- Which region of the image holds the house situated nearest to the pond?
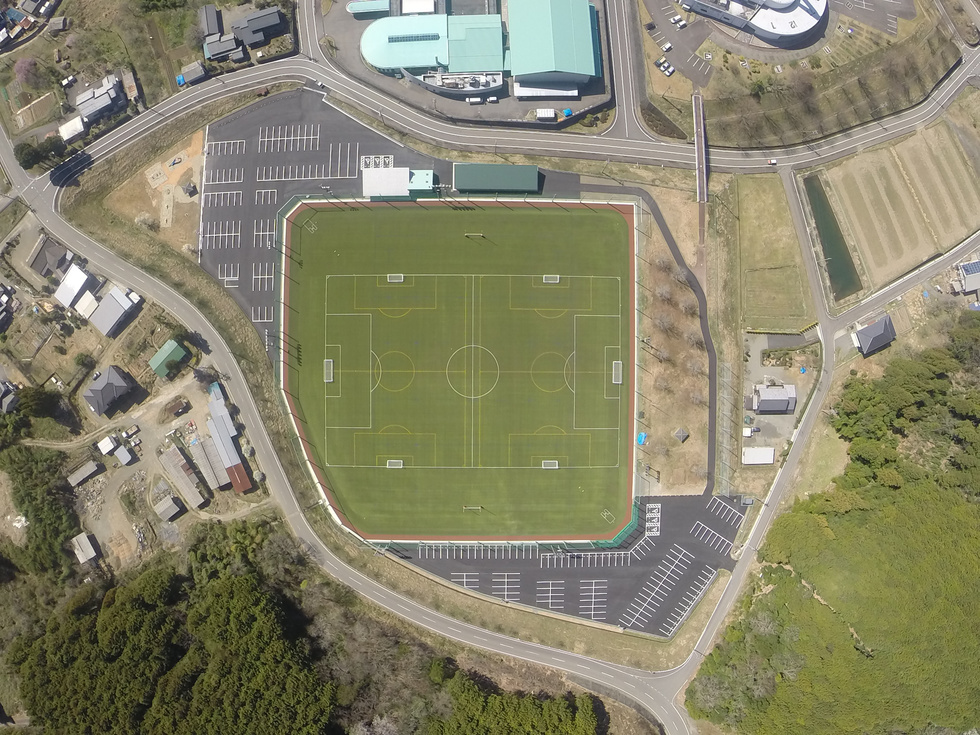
right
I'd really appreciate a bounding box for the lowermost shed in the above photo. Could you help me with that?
[73,531,101,564]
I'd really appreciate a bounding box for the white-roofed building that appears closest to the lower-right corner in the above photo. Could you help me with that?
[741,447,774,464]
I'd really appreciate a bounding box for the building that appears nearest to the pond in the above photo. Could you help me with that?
[847,314,898,355]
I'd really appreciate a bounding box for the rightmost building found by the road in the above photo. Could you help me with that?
[946,258,980,292]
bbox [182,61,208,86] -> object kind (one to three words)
shed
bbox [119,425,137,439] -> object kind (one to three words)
vehicle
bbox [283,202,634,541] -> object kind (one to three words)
soccer field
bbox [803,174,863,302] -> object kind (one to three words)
pond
